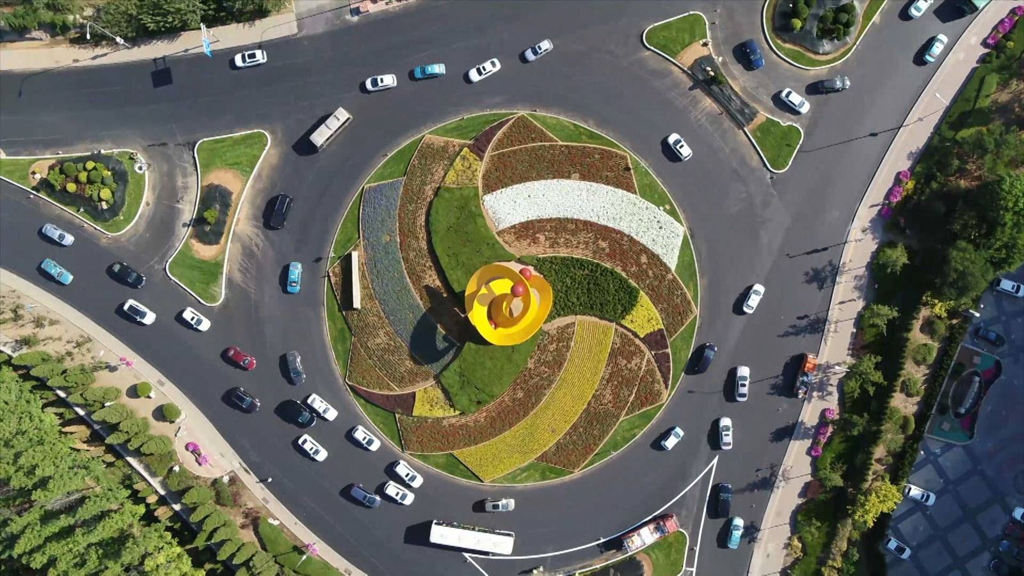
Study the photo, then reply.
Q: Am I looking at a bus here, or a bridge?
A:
bus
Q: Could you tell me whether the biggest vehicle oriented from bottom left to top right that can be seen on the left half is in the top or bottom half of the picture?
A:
top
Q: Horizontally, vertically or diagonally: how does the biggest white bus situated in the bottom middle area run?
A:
horizontally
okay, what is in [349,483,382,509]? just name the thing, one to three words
car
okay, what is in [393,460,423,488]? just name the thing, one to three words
car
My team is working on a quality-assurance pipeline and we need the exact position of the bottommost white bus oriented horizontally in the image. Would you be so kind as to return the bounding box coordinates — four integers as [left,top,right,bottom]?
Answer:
[431,520,516,554]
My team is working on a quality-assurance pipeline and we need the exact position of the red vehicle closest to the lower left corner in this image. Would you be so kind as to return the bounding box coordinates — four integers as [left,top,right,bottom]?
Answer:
[224,346,256,370]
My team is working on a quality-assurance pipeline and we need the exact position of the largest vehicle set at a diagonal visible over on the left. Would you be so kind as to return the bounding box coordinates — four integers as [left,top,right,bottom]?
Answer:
[307,108,353,152]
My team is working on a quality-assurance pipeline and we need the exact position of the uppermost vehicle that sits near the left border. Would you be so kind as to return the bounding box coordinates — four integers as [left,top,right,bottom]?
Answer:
[42,223,75,247]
